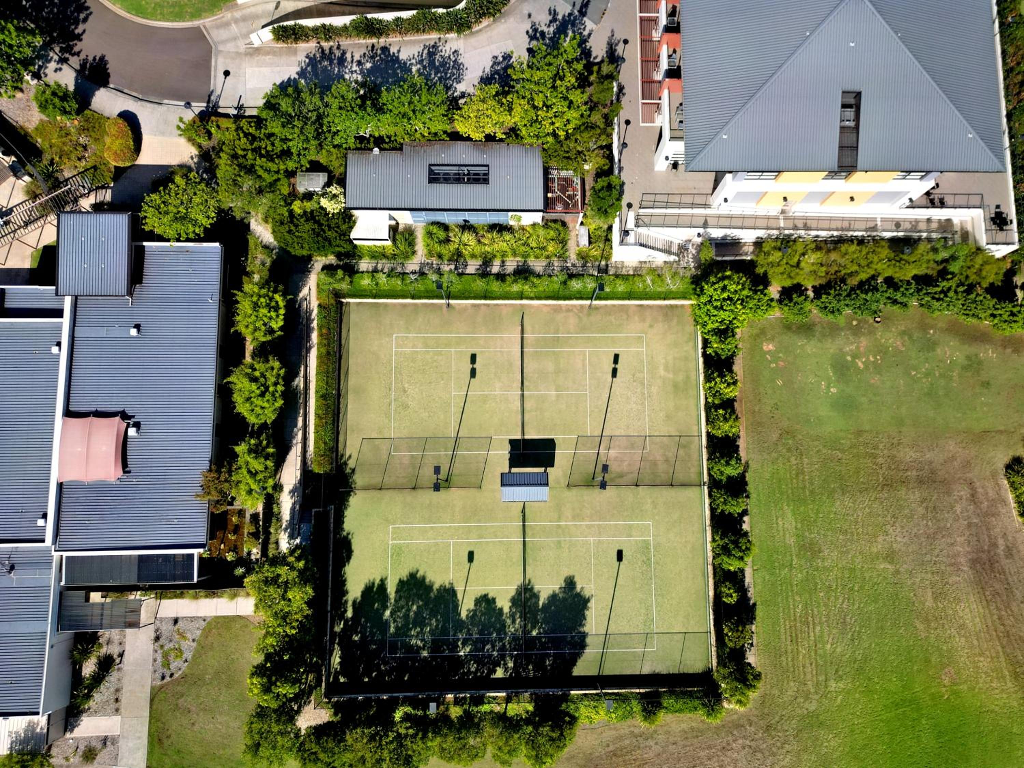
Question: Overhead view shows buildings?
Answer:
Yes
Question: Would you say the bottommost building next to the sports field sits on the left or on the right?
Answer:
left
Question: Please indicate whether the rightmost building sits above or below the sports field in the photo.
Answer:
above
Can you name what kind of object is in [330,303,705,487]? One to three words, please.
tennis court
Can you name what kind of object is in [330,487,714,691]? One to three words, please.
tennis court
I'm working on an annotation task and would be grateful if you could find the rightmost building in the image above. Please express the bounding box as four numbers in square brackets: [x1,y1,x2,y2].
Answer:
[649,0,1006,216]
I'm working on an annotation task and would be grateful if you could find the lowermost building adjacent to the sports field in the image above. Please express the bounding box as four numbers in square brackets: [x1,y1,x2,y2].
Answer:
[0,210,231,768]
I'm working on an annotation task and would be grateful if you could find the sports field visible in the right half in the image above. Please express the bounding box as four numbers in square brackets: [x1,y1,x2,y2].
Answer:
[327,302,1024,768]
